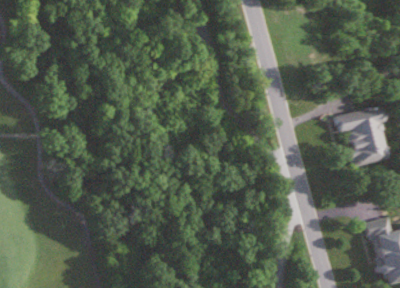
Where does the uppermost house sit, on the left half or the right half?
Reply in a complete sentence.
The uppermost house is on the right side of the image.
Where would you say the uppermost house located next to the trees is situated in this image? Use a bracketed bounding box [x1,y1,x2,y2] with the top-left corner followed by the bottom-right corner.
[334,108,391,162]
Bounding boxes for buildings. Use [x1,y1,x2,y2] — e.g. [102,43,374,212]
[366,218,400,287]
[334,108,391,162]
